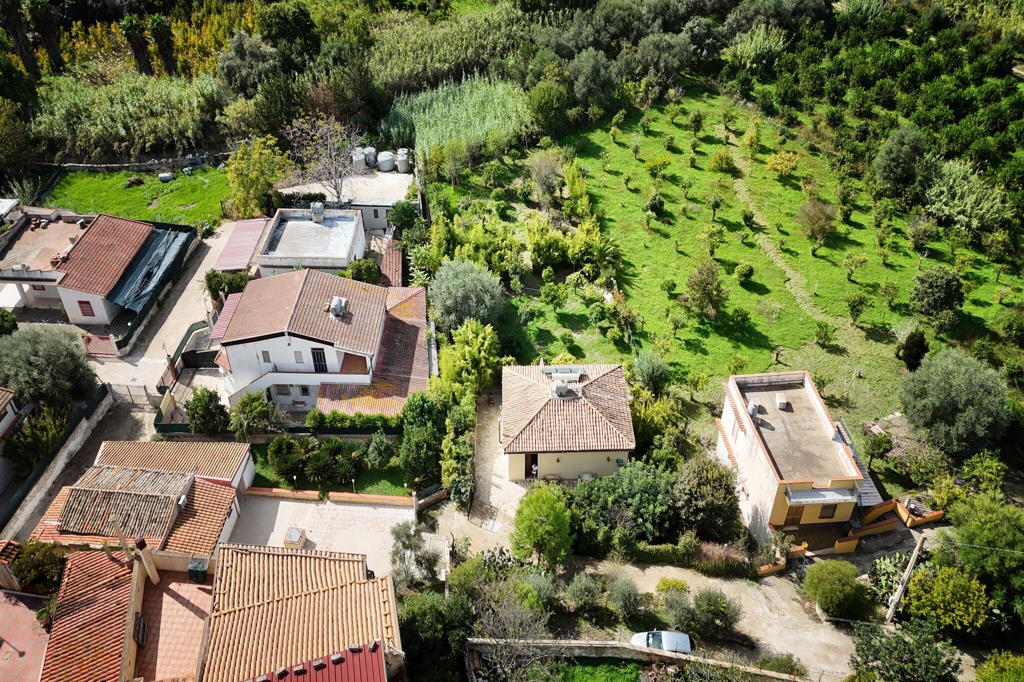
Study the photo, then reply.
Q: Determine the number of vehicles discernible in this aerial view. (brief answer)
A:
1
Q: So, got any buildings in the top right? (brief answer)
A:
No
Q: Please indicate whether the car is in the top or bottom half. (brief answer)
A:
bottom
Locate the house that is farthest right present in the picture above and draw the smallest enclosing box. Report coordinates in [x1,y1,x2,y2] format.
[712,370,883,527]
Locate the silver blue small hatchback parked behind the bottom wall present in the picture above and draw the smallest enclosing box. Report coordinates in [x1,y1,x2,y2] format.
[635,632,693,654]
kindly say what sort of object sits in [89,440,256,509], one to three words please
building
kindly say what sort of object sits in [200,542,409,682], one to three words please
house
